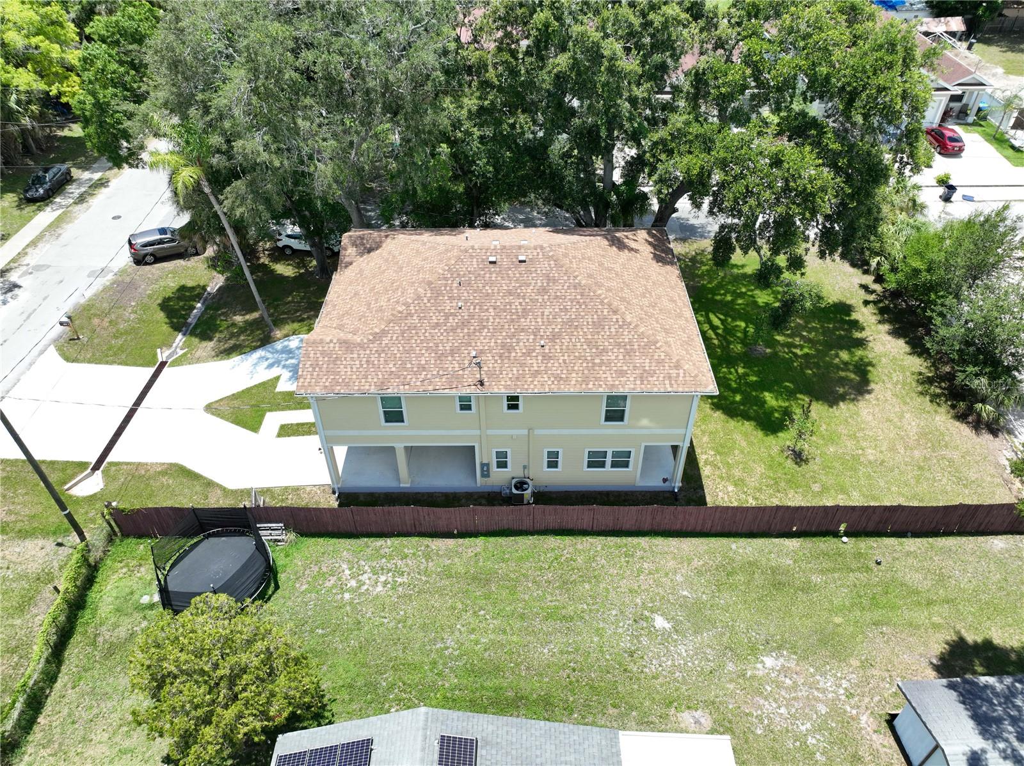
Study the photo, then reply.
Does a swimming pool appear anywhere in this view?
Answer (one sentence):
No, no swimming pool is visible in the view.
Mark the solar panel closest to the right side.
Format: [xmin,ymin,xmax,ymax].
[439,732,478,766]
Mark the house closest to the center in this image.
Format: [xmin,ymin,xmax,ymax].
[294,227,722,507]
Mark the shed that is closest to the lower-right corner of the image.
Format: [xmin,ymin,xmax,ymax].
[887,678,1024,766]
